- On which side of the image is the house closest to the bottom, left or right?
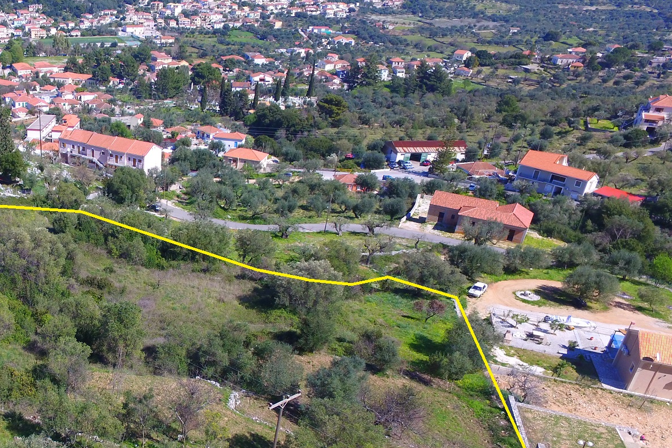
right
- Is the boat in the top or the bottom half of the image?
bottom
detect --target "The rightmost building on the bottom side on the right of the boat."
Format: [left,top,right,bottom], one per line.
[622,320,672,397]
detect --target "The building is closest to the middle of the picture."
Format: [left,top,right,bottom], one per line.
[338,165,382,192]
